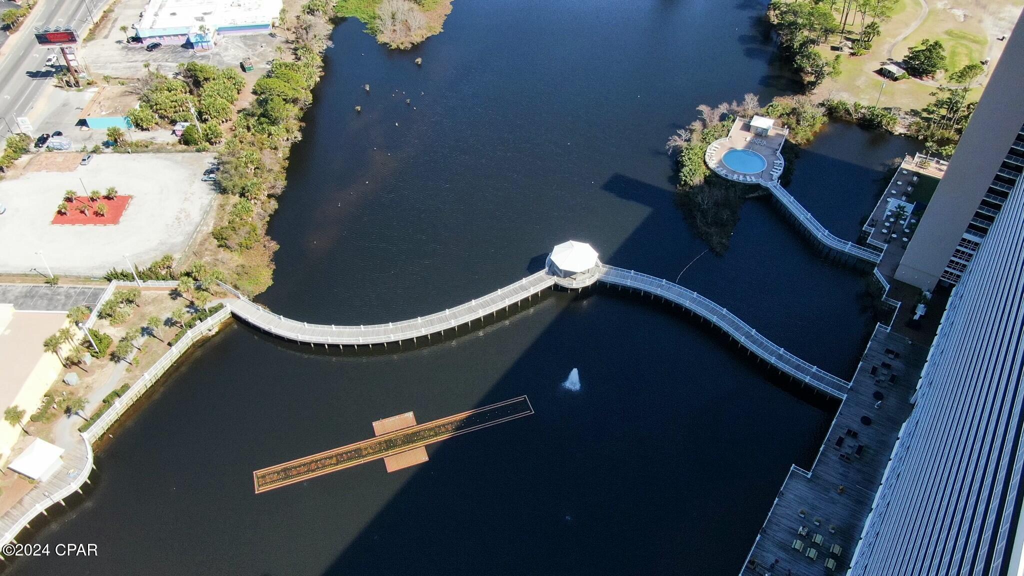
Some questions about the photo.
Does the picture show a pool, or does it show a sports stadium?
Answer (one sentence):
The one in the frame is a pool.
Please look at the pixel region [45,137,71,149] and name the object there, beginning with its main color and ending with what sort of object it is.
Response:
white vehicle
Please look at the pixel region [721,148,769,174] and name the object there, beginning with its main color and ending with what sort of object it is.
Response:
blue swimming pool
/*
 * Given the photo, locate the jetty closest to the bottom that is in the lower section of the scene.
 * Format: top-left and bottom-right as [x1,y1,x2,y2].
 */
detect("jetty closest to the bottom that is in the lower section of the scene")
[383,445,430,472]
